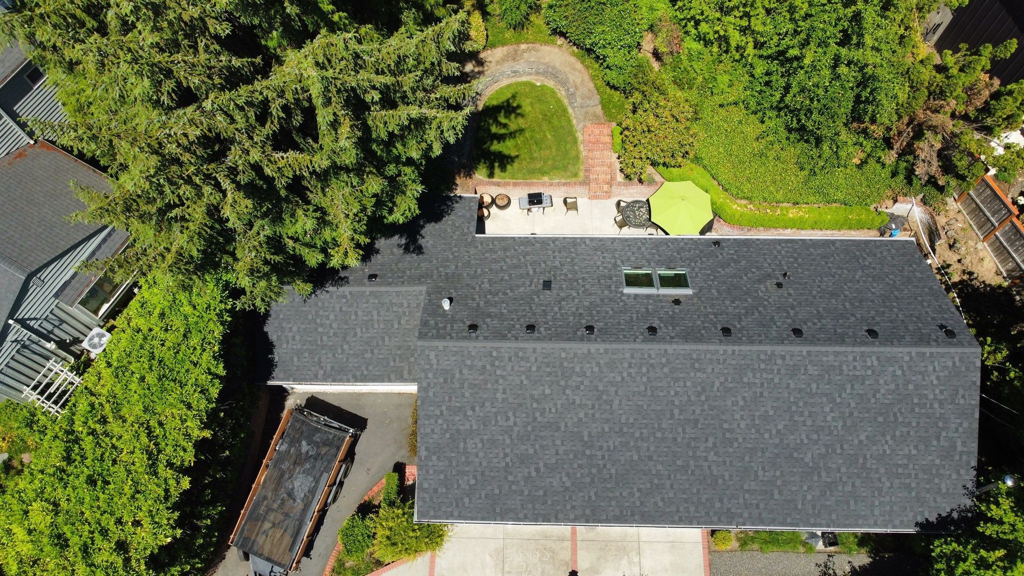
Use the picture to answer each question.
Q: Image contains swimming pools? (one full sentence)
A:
No, no swimming pool is visible in the scene.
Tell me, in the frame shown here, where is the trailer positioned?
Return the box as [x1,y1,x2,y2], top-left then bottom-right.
[229,404,360,576]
